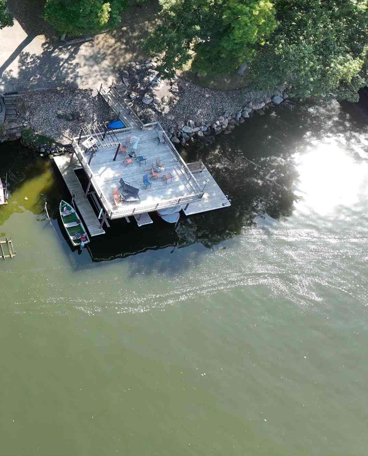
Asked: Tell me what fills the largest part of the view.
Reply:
water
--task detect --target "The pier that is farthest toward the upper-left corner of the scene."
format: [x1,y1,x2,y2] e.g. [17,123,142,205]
[53,152,106,241]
